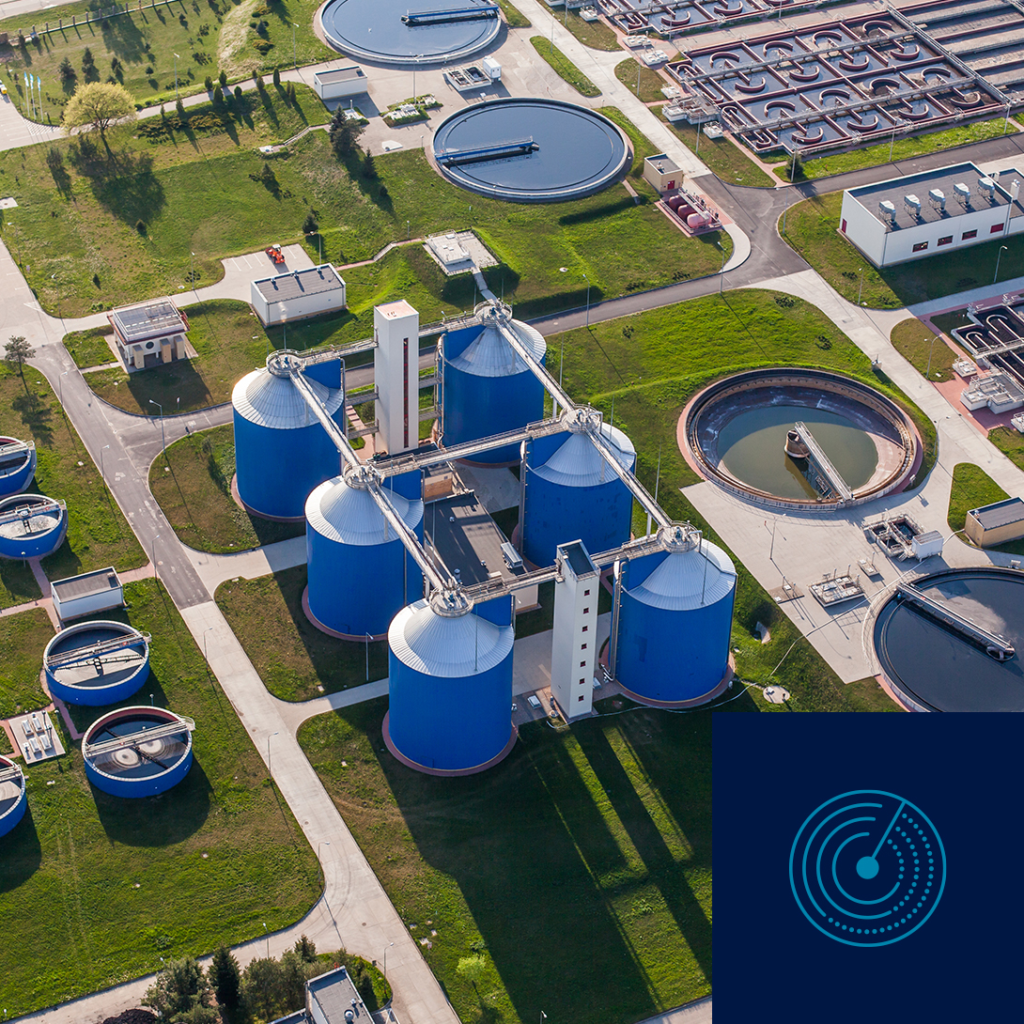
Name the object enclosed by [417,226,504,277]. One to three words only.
building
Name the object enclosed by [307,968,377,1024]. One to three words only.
building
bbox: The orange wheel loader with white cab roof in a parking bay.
[258,240,291,264]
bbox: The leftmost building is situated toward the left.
[49,564,125,620]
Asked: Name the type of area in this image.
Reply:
industrial area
